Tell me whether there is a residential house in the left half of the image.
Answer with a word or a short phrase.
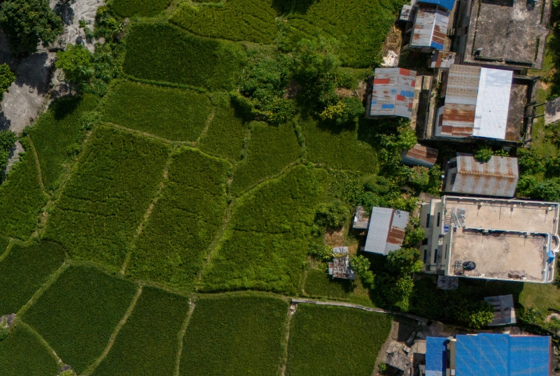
No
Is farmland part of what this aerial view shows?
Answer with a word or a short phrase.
Yes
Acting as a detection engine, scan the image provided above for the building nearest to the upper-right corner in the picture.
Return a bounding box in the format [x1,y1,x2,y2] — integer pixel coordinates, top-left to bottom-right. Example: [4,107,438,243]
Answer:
[451,0,551,74]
